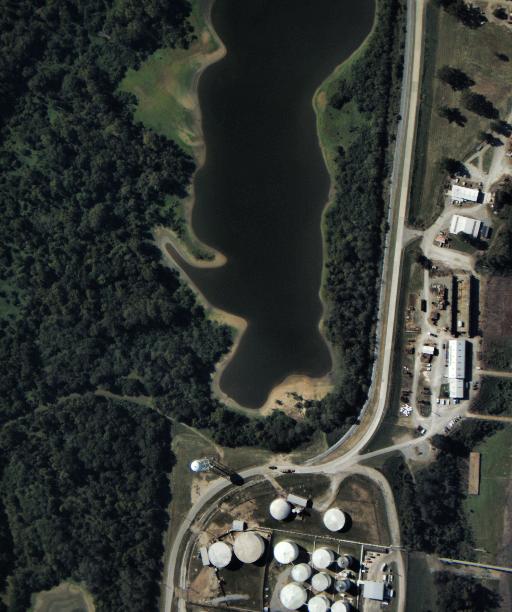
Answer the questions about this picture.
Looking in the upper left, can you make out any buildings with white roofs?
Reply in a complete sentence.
No, I can find no building with a white roof in the upper left.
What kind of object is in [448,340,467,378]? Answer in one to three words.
building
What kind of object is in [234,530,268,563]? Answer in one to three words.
storage tank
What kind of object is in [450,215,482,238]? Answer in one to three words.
building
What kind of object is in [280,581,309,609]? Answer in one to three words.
storage tank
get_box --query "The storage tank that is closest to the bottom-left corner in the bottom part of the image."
[208,539,236,568]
